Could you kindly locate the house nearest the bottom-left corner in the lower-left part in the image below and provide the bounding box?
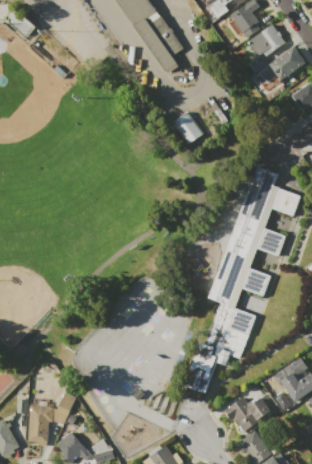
[0,420,21,456]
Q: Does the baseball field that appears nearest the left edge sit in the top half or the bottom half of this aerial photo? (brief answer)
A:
bottom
